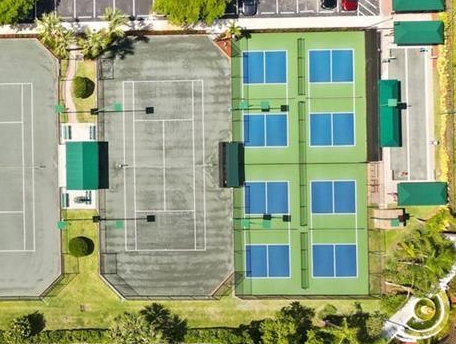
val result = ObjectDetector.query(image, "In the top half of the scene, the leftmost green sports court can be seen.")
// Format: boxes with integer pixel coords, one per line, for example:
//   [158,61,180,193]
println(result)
[234,30,302,163]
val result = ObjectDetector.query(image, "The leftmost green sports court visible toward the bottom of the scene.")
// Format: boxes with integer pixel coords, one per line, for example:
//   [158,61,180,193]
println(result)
[234,162,303,296]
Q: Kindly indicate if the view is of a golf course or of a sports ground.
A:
sports ground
